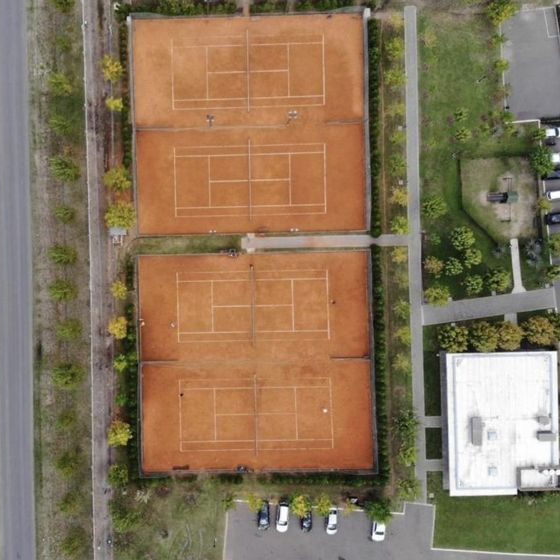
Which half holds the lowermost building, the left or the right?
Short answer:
right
